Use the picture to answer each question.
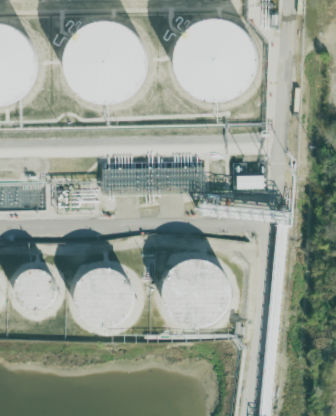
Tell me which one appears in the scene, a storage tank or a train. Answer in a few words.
storage tank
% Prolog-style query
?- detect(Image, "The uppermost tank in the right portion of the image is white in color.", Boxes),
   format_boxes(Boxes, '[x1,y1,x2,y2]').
[168,14,265,110]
